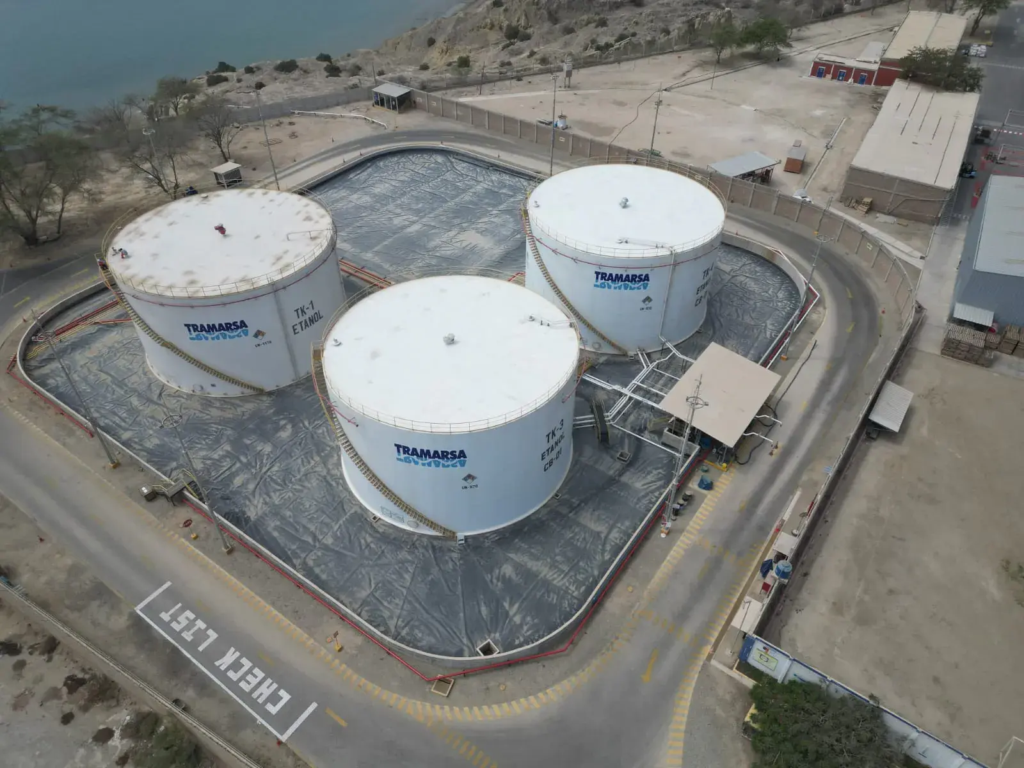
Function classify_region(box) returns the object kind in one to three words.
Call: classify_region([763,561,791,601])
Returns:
water tank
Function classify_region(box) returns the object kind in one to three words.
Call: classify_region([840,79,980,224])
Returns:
warehouse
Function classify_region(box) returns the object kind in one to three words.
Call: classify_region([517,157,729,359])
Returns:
storage tank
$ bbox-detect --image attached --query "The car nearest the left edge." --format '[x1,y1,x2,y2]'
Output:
[792,192,819,204]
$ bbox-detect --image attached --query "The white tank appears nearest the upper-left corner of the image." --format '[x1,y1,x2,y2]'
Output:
[92,181,350,397]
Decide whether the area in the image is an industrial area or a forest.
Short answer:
industrial area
